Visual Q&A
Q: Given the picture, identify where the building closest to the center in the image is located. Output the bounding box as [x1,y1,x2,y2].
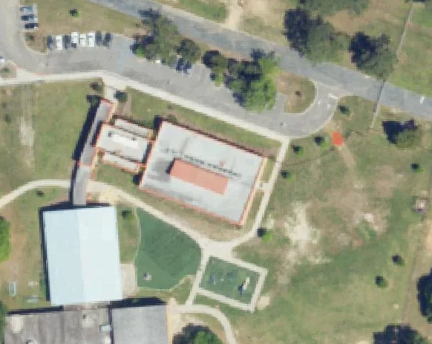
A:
[141,120,269,224]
